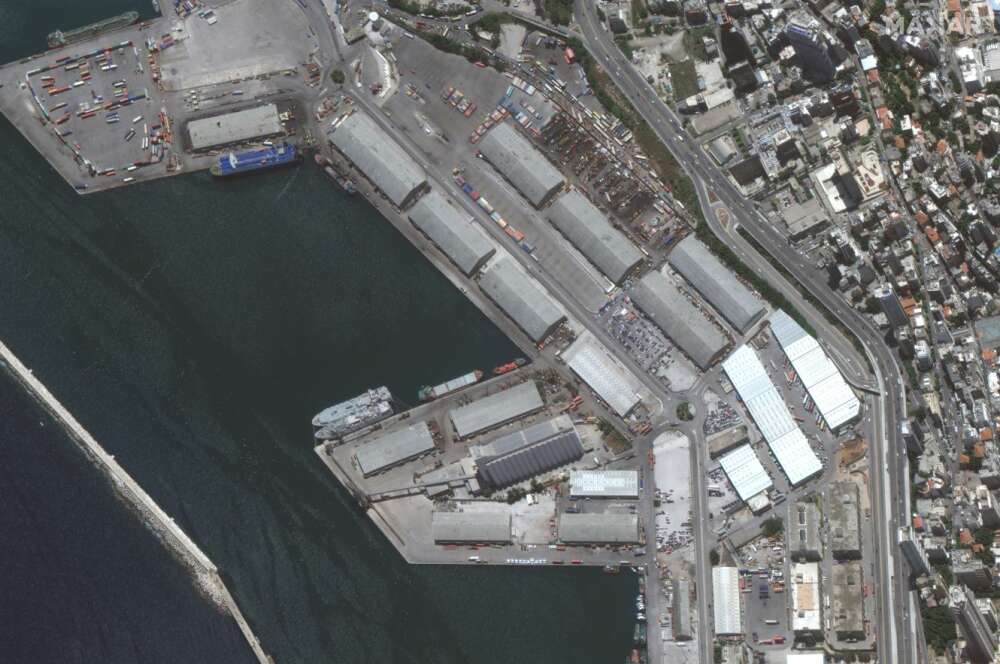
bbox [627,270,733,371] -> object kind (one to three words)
building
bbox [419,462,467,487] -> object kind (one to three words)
shed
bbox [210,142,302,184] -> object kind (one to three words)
ship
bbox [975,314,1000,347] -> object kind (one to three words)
sports court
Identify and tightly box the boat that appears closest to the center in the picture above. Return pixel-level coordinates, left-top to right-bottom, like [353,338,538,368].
[493,359,528,376]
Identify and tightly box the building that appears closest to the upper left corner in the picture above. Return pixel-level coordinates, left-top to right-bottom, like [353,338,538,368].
[188,103,283,152]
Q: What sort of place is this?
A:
port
